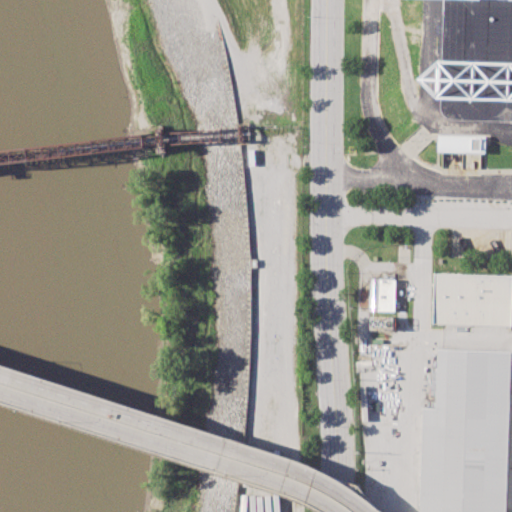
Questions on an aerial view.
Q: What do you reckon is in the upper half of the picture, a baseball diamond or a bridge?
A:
bridge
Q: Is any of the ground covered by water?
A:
Yes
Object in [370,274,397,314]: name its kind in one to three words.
house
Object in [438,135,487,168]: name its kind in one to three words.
shed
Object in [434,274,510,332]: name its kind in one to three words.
building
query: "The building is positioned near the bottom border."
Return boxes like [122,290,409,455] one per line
[420,350,510,512]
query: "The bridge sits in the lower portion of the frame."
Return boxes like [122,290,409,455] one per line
[0,365,378,512]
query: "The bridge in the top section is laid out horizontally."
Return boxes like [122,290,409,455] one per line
[0,124,248,166]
